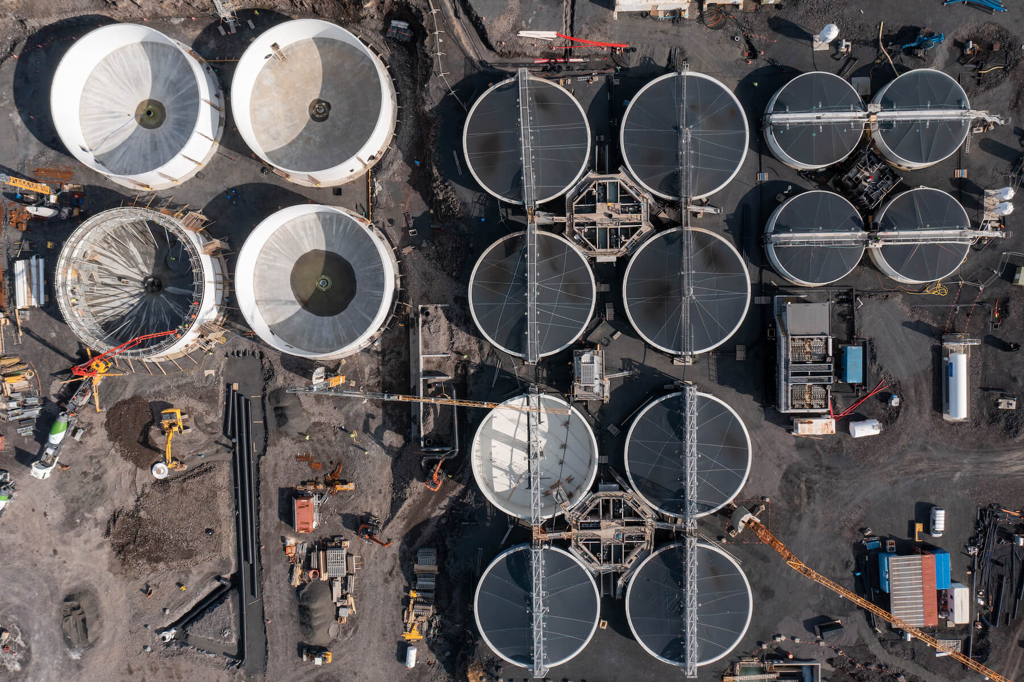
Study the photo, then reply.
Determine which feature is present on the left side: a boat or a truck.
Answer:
truck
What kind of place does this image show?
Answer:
industrial area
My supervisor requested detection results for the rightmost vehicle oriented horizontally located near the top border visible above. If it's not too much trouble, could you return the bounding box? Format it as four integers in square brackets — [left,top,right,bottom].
[868,34,936,68]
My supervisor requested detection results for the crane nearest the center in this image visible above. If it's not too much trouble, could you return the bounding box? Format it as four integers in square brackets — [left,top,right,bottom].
[287,365,571,414]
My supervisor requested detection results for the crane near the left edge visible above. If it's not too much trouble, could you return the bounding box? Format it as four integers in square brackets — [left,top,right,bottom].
[0,168,64,219]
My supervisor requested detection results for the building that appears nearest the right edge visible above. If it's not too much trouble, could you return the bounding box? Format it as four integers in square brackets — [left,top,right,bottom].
[942,581,968,622]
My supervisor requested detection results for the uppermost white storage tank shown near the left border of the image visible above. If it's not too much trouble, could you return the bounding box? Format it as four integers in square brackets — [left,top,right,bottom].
[49,23,227,193]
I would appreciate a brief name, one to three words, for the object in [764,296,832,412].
building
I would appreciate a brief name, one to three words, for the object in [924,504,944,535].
vehicle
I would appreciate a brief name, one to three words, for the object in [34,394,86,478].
truck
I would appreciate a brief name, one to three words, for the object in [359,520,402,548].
work vehicle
